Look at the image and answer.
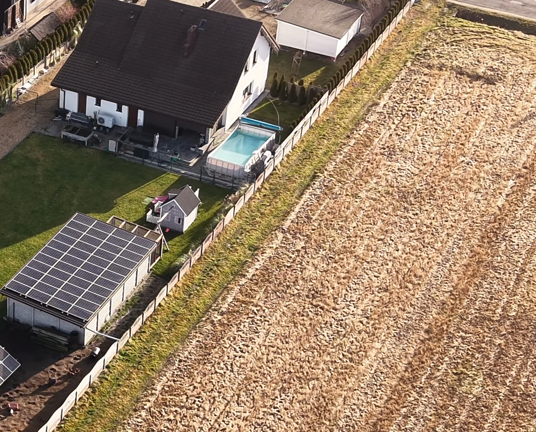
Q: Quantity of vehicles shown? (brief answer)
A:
0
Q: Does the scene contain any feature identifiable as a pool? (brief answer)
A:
Yes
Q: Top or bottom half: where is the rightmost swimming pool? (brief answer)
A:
top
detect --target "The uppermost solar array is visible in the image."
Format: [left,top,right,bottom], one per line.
[5,213,156,320]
